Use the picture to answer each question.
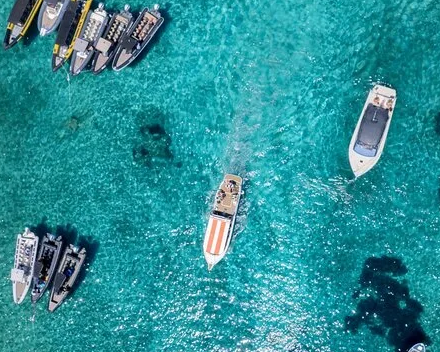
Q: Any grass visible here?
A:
No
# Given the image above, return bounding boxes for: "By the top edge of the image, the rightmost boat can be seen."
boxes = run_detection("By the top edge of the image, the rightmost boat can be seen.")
[113,7,163,69]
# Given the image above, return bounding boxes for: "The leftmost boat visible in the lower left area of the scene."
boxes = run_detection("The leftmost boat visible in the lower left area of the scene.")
[11,228,40,303]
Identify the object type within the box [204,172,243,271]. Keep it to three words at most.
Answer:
boat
